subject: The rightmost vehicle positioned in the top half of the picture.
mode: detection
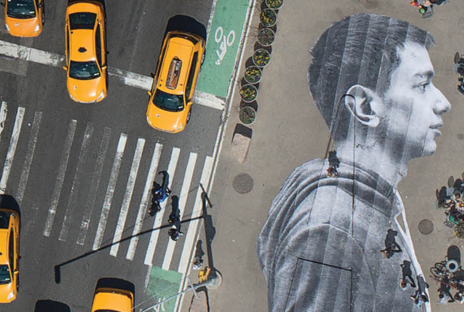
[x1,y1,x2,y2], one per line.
[146,28,206,132]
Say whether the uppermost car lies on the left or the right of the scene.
left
